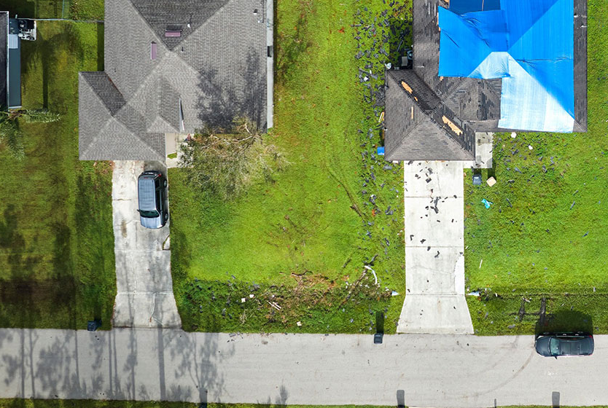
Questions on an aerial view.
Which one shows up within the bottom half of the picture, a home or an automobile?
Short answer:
automobile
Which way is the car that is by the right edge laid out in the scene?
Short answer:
horizontally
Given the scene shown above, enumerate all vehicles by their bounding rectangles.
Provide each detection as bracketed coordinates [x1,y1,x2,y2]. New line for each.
[535,331,593,361]
[135,170,167,227]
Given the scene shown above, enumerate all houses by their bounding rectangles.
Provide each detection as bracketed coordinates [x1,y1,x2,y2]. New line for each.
[0,10,27,124]
[385,0,587,161]
[78,0,275,160]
